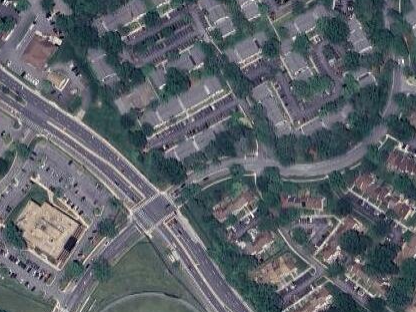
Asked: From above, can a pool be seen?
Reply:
No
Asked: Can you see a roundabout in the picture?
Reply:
No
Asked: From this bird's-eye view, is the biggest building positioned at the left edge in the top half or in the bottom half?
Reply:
bottom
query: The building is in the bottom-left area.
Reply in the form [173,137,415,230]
[16,201,89,264]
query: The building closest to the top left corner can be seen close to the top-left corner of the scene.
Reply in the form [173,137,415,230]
[21,34,62,69]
